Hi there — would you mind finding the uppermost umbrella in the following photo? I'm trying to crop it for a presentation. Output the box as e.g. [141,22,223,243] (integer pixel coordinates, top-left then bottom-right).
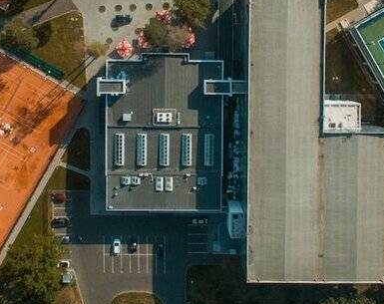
[154,7,172,25]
